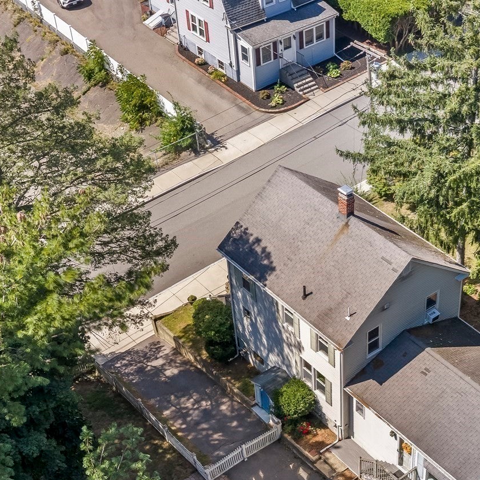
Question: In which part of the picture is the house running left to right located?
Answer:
top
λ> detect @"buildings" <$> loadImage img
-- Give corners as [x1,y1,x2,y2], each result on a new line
[216,167,480,480]
[141,0,344,89]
